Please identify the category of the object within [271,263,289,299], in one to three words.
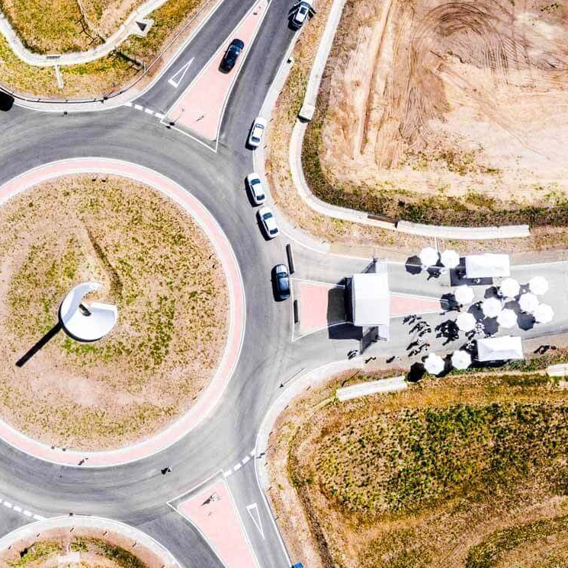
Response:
car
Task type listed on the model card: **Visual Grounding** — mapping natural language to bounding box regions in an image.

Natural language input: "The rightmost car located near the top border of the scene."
[286,0,314,30]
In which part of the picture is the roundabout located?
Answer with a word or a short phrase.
left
